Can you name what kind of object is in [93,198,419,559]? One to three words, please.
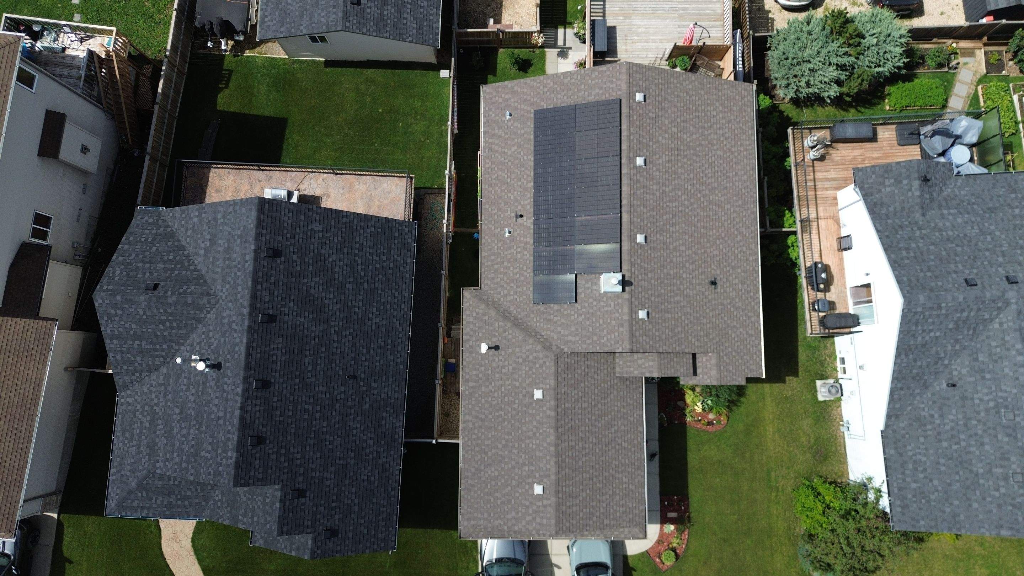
house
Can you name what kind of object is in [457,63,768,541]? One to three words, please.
house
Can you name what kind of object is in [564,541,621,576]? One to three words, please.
car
